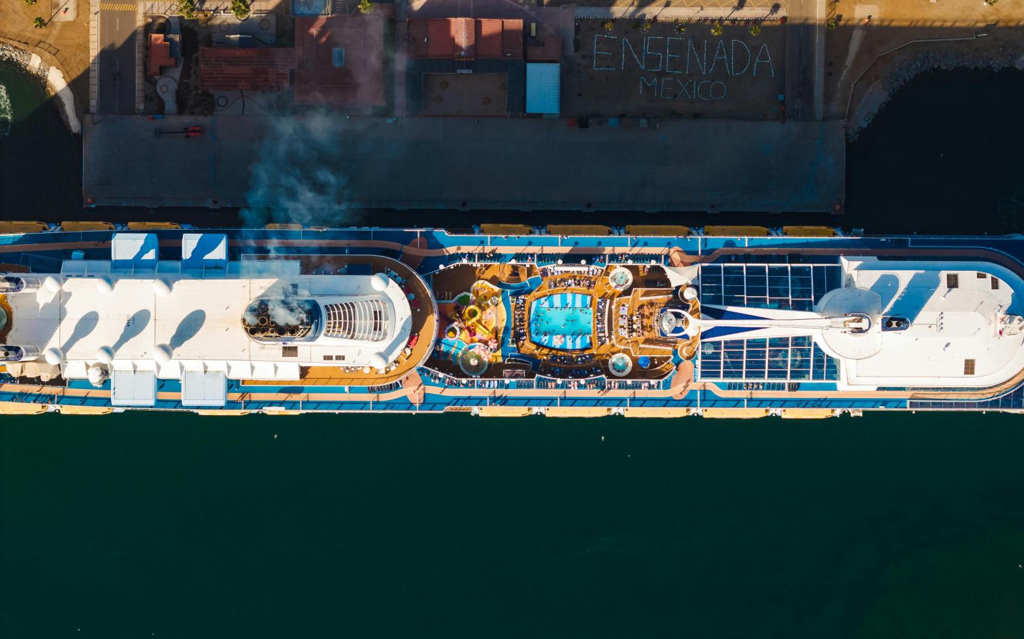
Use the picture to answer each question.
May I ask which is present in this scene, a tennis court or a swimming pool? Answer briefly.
swimming pool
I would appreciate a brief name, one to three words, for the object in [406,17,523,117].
building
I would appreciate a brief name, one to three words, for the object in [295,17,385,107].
building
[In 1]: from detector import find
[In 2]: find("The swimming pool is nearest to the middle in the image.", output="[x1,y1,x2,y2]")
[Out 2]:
[528,290,596,353]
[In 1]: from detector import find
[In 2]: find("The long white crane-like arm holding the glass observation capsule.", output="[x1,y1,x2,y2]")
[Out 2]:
[657,308,871,338]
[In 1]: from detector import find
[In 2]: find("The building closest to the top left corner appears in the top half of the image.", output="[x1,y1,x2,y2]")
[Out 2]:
[148,34,181,78]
